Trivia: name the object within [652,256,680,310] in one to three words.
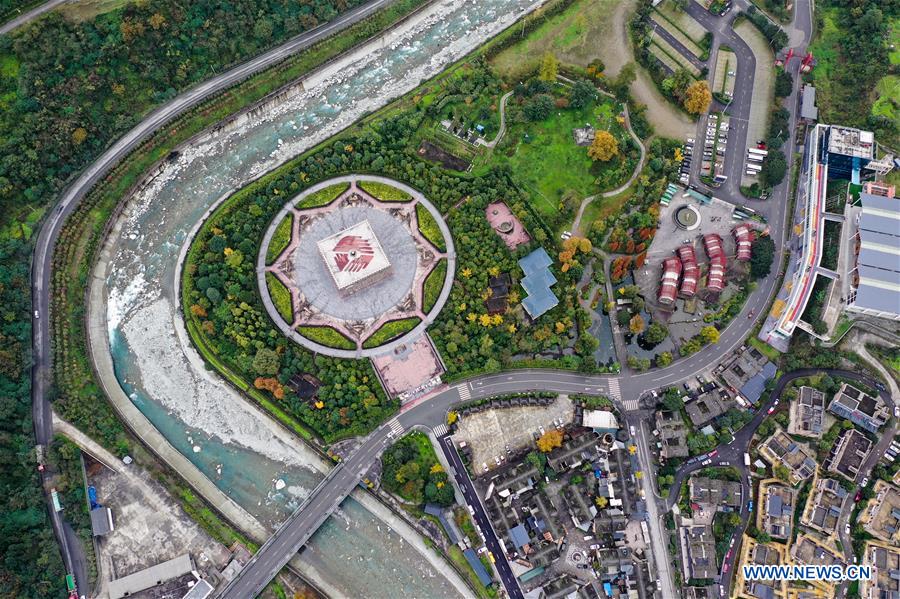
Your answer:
building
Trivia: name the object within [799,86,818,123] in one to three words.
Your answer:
building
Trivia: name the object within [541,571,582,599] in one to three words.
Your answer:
house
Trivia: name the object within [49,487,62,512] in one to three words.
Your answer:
vehicle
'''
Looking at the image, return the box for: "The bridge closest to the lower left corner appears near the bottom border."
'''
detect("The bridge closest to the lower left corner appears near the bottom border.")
[208,442,384,599]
